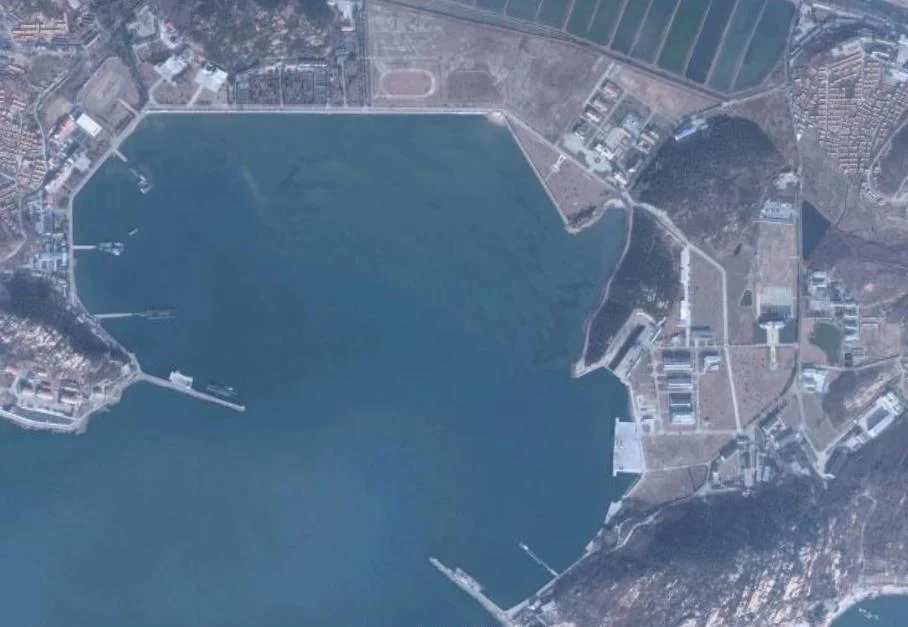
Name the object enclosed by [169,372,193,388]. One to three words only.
ship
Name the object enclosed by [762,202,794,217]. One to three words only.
building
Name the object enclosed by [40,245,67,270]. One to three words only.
building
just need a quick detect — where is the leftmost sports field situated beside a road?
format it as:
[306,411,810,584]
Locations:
[89,58,130,106]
